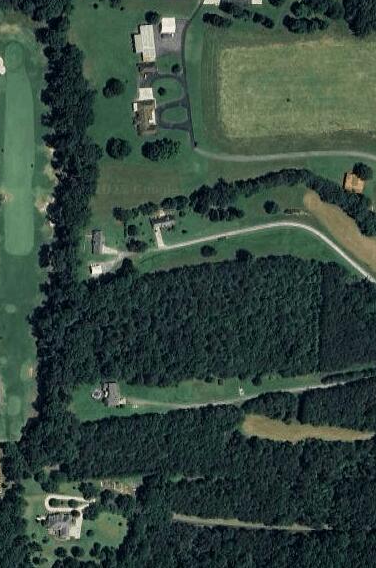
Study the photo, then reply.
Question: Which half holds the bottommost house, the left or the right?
left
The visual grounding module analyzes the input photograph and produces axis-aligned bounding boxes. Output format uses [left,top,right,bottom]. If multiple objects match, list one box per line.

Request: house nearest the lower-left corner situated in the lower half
[47,514,69,537]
